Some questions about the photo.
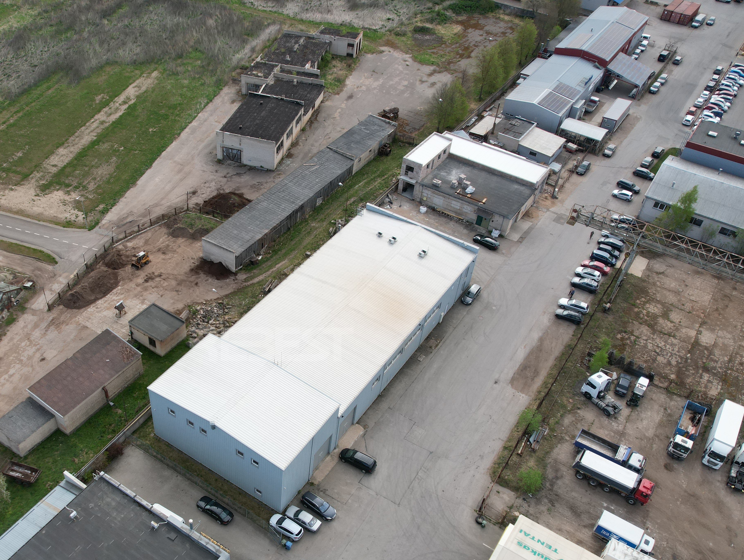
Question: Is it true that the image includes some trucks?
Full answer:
Yes, you can see a truck in this photo.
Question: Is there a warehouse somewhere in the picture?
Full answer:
Yes, there's a warehouse down there.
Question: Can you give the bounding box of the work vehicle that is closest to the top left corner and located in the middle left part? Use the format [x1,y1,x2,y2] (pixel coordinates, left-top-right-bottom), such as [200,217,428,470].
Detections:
[130,250,151,272]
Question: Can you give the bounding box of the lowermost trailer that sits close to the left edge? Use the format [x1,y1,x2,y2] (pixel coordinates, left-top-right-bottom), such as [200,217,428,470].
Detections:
[0,458,42,485]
